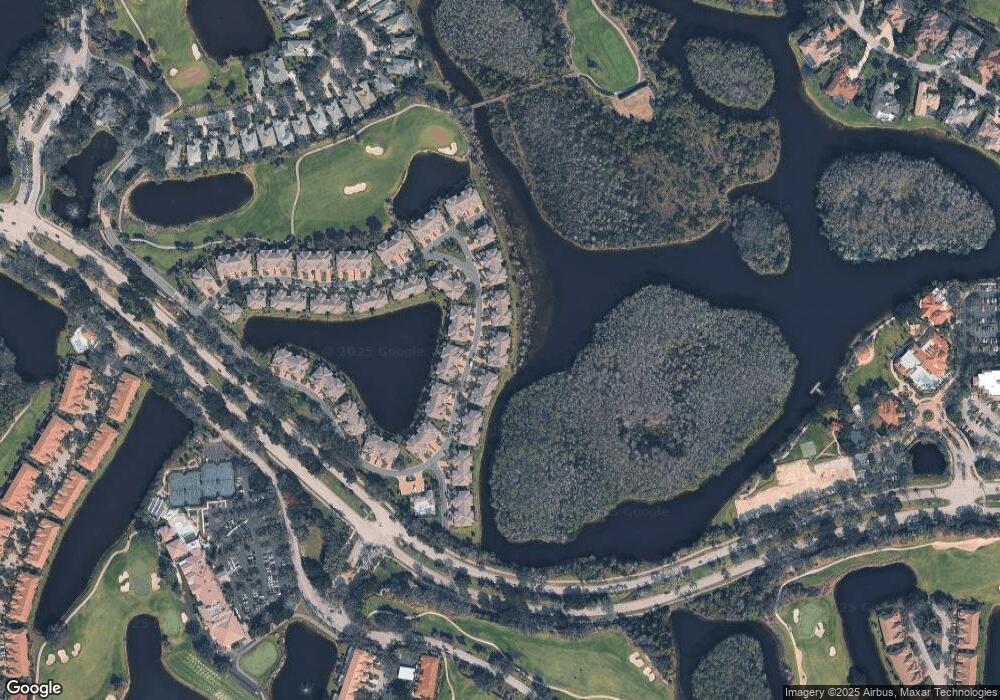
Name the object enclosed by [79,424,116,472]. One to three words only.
house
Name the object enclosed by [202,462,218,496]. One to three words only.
tennis court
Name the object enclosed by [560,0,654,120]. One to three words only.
golf course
